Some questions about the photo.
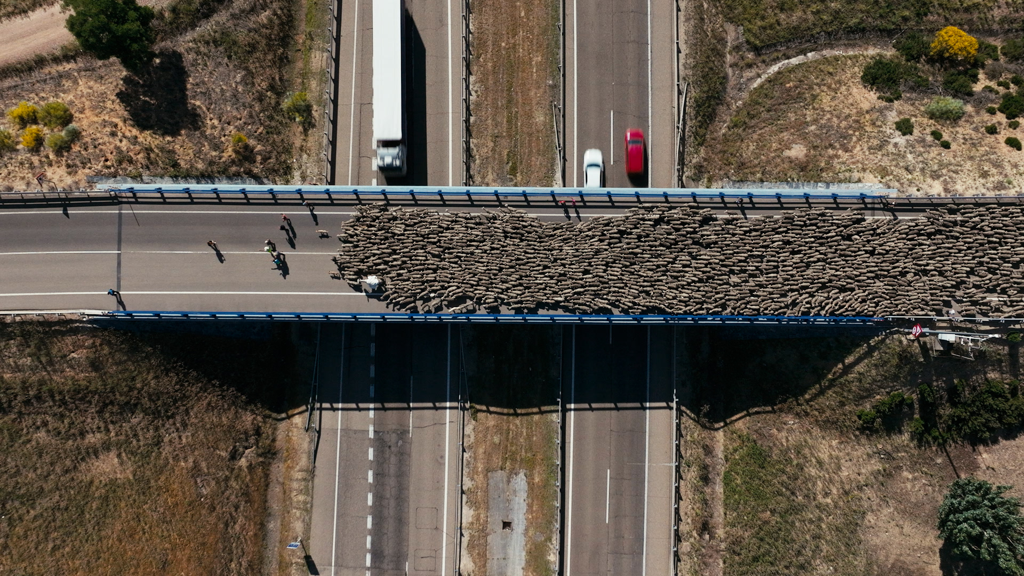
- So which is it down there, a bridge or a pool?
bridge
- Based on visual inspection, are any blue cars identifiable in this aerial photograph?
No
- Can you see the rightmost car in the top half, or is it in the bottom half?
top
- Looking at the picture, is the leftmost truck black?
No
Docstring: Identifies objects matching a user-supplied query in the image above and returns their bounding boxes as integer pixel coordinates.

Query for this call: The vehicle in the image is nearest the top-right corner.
[624,128,646,173]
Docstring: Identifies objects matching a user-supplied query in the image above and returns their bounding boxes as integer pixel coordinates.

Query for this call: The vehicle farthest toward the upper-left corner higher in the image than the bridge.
[373,0,407,177]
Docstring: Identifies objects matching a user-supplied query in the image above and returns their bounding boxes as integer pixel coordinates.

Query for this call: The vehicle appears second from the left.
[583,149,605,186]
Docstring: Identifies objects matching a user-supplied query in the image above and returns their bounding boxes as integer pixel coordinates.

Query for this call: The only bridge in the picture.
[97,182,903,327]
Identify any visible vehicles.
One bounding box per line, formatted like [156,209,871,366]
[583,149,605,186]
[624,128,646,173]
[373,0,407,177]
